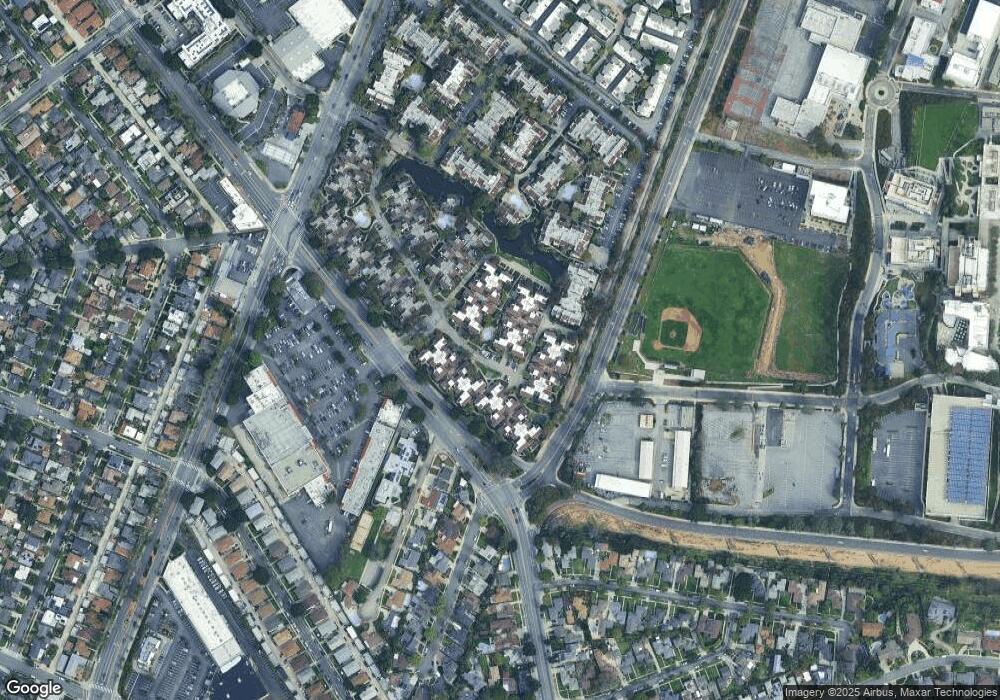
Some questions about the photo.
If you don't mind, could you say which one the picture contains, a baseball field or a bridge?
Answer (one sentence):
There is a baseball field in the scene.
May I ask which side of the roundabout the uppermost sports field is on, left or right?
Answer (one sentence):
Compared with the roundabout, the uppermost sports field is located further to the right.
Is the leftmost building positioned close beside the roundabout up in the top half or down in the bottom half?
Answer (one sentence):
You can find the leftmost building positioned close beside the roundabout in the top half.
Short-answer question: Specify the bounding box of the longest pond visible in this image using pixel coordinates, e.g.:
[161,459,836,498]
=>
[393,158,568,280]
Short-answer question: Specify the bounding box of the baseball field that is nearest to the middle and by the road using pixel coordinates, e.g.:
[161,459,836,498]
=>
[630,242,773,387]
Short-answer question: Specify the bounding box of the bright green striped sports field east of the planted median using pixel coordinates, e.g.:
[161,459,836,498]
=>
[910,99,981,170]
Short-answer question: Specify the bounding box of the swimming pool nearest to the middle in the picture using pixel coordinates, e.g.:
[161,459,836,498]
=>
[478,324,496,345]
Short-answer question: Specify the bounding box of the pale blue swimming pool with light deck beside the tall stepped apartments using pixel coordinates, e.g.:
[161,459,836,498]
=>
[401,70,427,94]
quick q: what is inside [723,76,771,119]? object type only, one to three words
tennis court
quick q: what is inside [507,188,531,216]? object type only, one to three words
swimming pool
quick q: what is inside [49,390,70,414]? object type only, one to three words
house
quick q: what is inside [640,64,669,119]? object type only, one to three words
building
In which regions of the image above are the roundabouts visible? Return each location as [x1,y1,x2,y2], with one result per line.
[863,75,898,109]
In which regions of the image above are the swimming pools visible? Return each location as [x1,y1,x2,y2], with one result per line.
[478,324,496,345]
[436,211,457,230]
[507,188,531,216]
[558,180,577,201]
[352,207,373,231]
[401,70,427,94]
